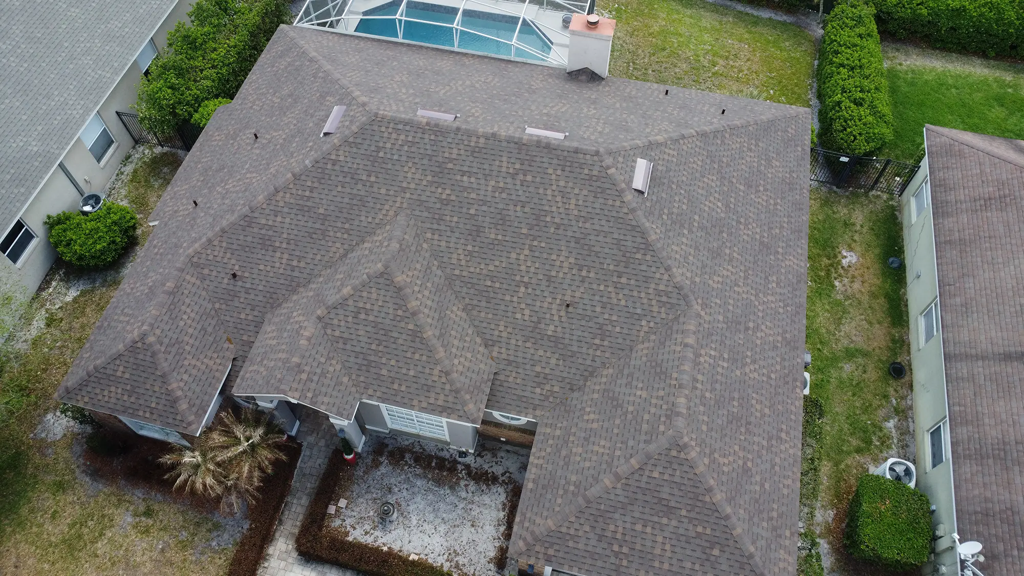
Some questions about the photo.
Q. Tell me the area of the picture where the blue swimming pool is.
top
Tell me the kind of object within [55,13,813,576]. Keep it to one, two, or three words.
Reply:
house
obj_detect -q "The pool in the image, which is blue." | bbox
[351,0,553,63]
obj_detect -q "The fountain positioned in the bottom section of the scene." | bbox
[376,498,394,516]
